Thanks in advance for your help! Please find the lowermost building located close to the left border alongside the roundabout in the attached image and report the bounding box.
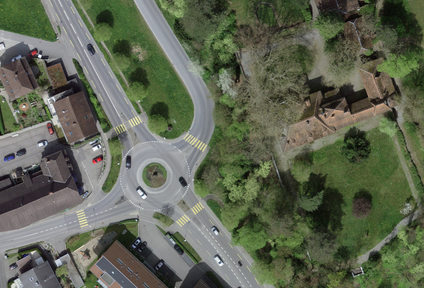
[0,151,84,232]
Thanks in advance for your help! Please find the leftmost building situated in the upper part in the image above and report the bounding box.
[0,56,38,101]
